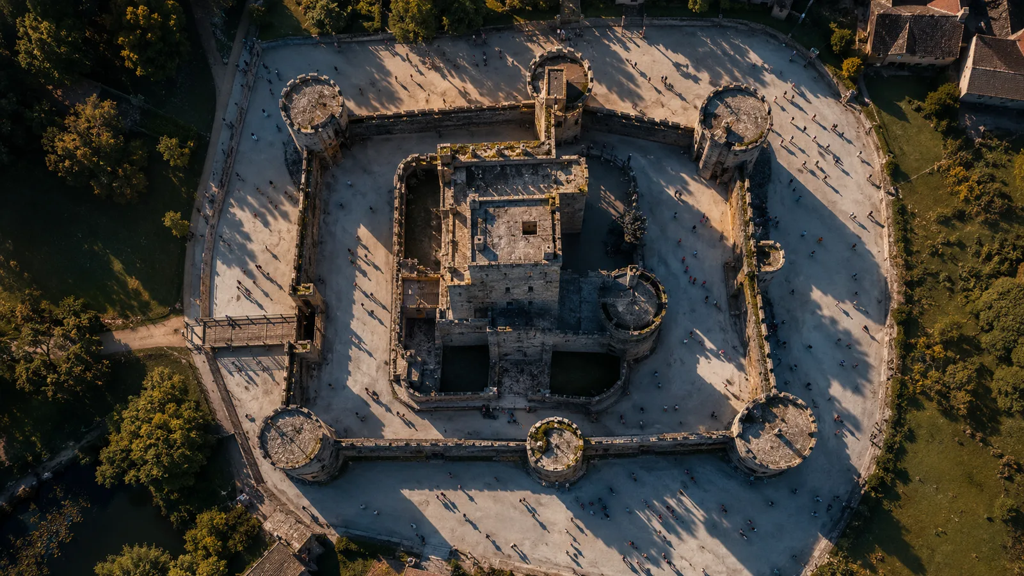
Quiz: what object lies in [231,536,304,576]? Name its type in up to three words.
house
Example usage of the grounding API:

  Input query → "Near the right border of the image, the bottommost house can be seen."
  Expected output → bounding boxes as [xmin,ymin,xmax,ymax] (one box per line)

[957,58,1024,115]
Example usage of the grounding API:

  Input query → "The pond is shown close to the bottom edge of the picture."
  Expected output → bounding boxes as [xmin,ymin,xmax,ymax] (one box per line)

[0,442,203,576]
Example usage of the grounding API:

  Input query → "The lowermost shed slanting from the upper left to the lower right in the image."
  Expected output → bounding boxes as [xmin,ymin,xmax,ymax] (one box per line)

[263,507,326,566]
